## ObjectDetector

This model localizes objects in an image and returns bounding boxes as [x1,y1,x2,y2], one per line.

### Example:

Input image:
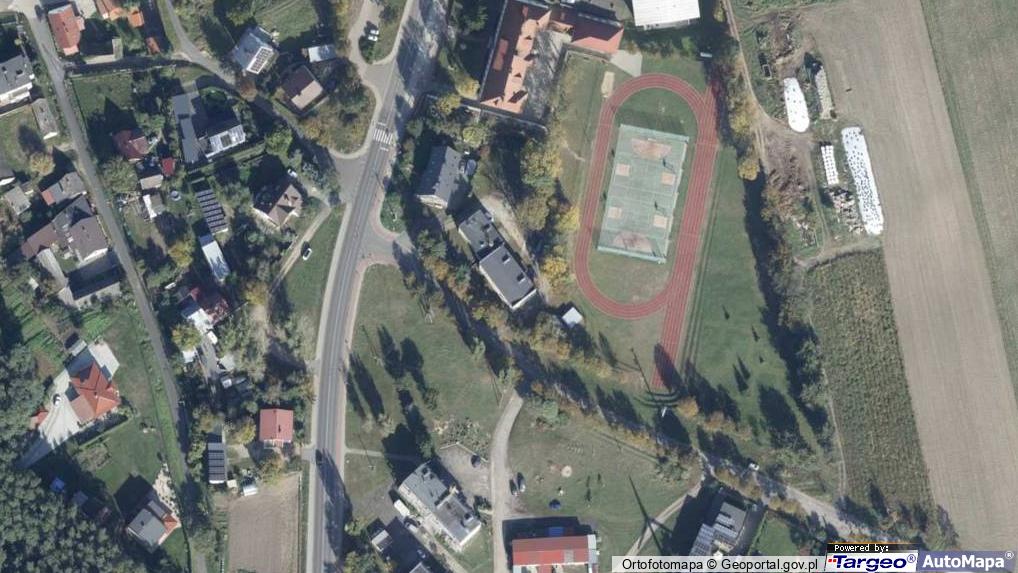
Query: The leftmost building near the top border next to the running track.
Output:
[480,0,623,116]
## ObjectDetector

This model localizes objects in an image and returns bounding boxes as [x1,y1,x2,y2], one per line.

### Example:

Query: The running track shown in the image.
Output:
[575,74,726,388]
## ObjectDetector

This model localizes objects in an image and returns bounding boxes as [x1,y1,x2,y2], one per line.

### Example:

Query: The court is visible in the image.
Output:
[599,125,689,263]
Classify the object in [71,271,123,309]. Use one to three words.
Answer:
barn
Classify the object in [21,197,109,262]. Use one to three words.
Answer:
house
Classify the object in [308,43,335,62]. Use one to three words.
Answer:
shed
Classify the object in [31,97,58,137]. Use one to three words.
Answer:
shed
